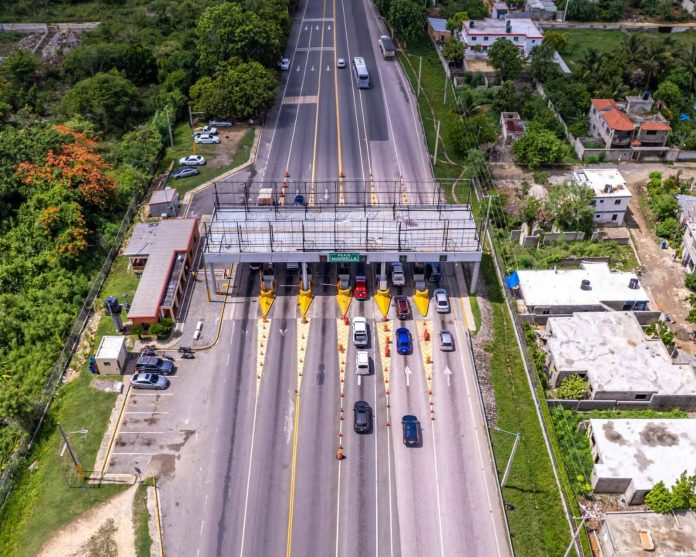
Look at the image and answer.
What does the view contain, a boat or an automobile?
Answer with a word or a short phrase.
automobile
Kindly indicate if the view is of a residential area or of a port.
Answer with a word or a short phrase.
residential area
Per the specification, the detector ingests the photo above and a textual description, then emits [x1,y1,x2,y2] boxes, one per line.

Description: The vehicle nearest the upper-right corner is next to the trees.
[379,35,396,58]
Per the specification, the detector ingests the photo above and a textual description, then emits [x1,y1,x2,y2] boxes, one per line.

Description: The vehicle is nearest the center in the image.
[353,271,368,296]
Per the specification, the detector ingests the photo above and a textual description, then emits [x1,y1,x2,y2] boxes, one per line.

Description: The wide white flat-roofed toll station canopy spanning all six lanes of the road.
[203,205,484,294]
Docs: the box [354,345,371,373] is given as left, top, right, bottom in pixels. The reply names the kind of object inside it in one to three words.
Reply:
car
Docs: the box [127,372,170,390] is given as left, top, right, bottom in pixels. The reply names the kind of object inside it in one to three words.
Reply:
car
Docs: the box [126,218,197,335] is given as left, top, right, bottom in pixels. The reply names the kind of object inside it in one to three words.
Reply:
building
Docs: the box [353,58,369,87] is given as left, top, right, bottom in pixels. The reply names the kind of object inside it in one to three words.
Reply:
vehicle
